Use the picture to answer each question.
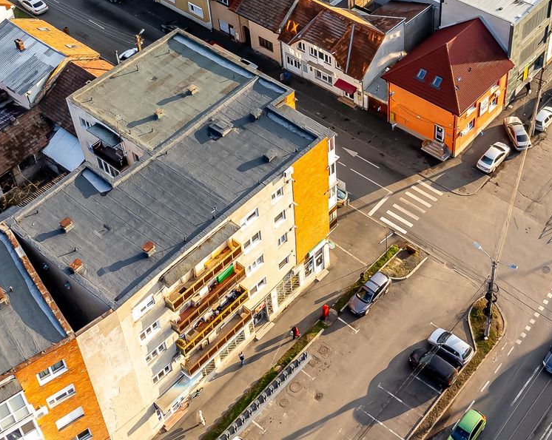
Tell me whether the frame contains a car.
Yes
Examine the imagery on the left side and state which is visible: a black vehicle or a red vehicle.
black vehicle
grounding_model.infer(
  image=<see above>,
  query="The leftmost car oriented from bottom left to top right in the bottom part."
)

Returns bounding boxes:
[345,268,393,318]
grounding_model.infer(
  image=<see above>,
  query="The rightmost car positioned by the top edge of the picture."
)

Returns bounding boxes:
[156,16,192,35]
